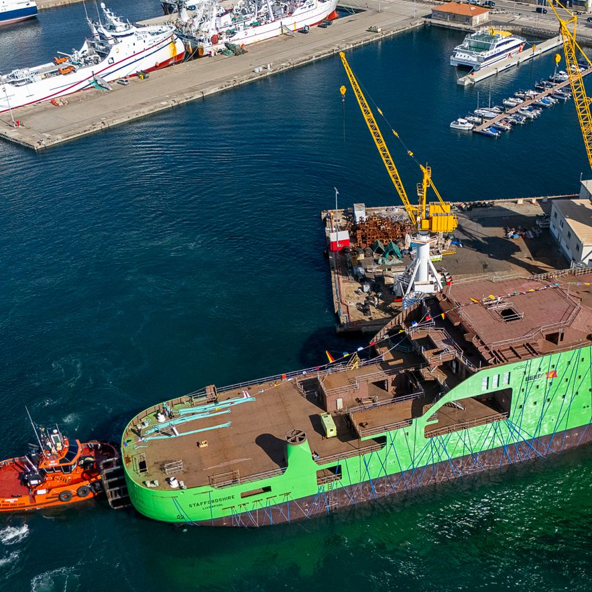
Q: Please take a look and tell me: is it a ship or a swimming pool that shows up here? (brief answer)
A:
ship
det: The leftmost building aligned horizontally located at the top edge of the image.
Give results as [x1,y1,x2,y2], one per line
[431,0,496,26]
